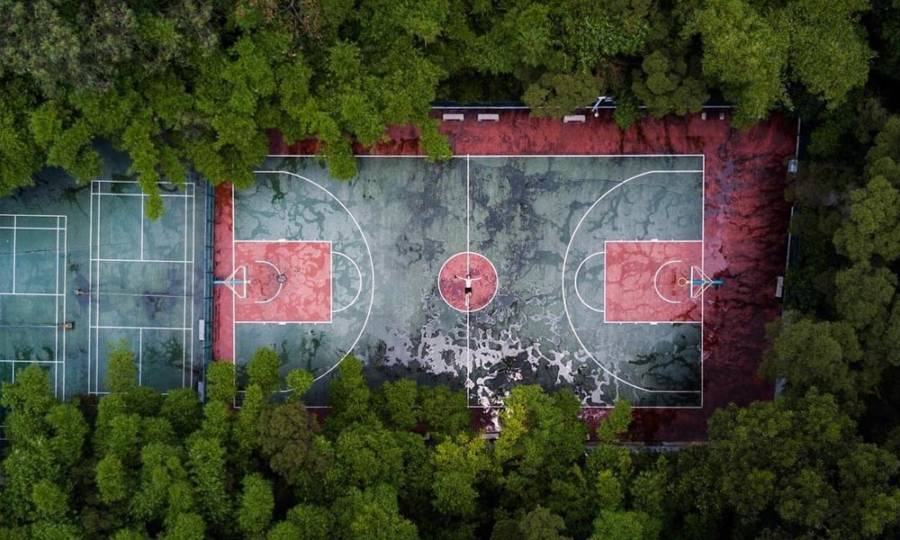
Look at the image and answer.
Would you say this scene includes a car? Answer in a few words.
No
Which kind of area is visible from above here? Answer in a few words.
sports ground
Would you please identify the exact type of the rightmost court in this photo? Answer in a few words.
basketball court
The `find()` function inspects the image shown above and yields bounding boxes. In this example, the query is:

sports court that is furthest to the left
[0,214,67,425]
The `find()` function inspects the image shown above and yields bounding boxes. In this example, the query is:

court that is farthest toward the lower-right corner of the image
[215,108,799,441]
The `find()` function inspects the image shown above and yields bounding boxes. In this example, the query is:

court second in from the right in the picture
[88,180,194,406]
